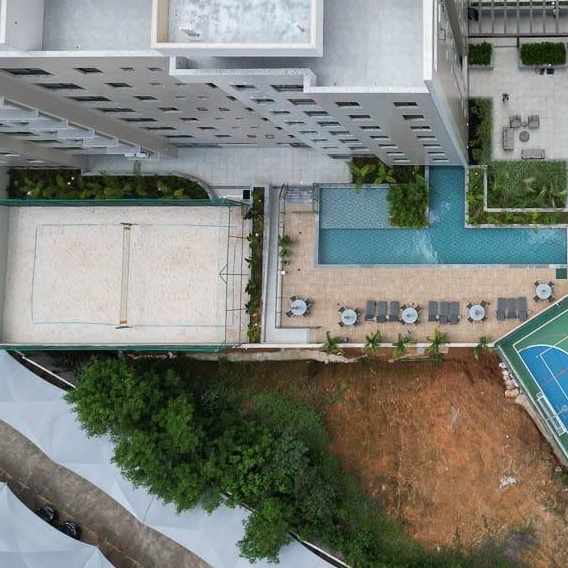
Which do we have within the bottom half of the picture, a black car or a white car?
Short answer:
black car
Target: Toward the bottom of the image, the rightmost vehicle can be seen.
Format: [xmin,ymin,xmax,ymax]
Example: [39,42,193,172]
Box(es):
[59,514,88,540]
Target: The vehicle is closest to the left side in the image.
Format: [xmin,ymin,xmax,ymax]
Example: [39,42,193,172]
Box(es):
[33,496,63,526]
